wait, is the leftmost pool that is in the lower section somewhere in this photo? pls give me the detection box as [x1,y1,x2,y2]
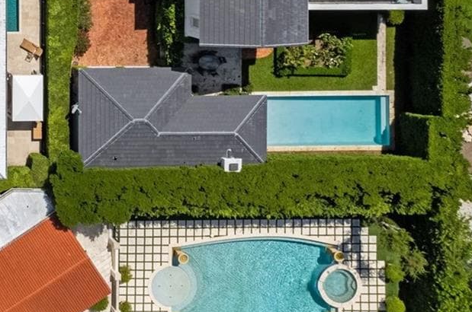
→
[144,232,337,312]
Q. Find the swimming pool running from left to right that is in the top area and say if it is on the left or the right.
right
